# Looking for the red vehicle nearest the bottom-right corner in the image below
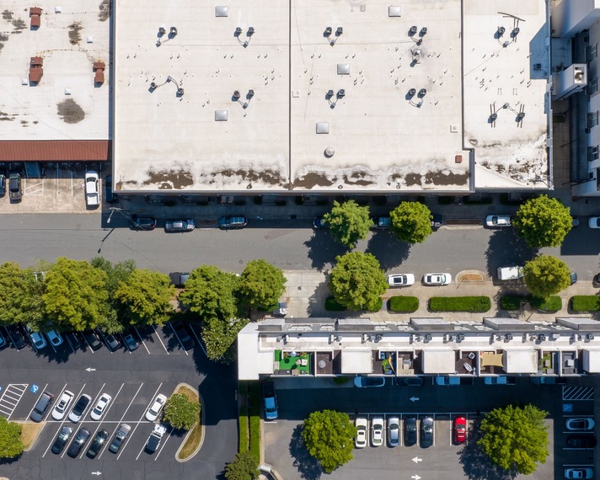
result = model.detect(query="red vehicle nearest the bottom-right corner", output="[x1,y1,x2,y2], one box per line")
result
[454,416,467,444]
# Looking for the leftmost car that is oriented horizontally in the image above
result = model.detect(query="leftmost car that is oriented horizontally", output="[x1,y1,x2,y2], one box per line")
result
[129,216,159,231]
